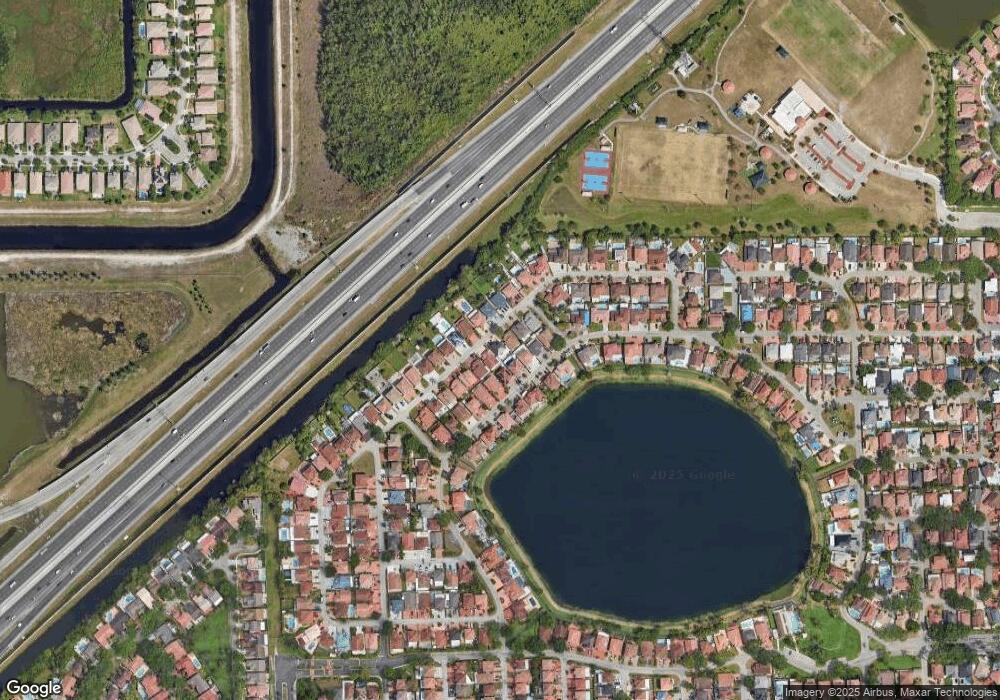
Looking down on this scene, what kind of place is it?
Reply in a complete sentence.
What you see here is a residential area.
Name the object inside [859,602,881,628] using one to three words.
house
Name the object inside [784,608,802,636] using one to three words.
swimming pool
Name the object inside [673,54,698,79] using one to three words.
building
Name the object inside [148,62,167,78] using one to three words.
house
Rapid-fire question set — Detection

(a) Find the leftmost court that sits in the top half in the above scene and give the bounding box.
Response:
[580,150,611,198]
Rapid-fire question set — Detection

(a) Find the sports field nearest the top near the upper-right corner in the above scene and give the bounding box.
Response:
[761,0,898,101]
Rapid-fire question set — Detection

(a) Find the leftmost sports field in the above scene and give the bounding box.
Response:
[612,124,728,204]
